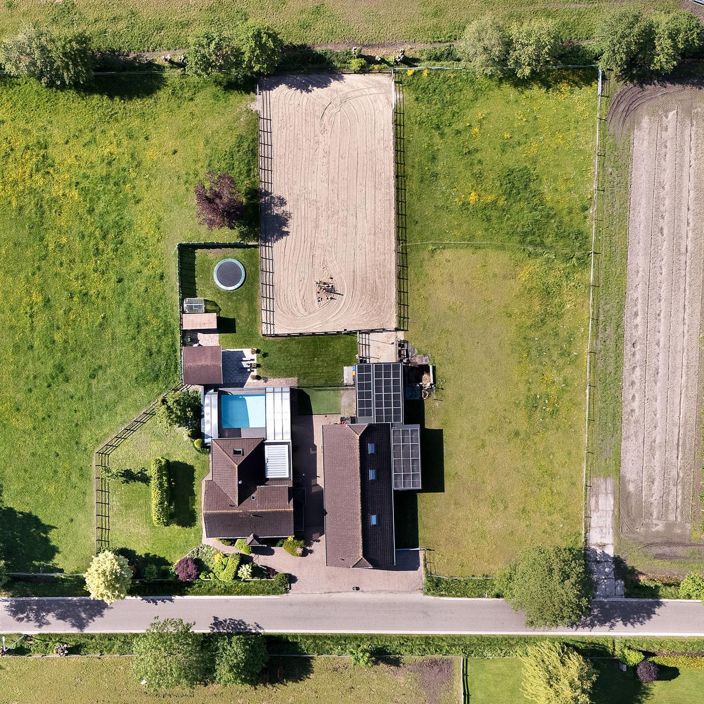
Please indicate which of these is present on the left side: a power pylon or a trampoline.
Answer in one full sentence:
The one visible on the left side is a trampoline.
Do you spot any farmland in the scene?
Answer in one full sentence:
Yes, some farmland is visible.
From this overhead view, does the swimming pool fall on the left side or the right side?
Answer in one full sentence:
You can find the swimming pool on the left side of the picture.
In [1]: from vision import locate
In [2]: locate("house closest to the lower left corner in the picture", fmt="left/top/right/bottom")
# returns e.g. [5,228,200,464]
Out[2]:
[203,437,306,546]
